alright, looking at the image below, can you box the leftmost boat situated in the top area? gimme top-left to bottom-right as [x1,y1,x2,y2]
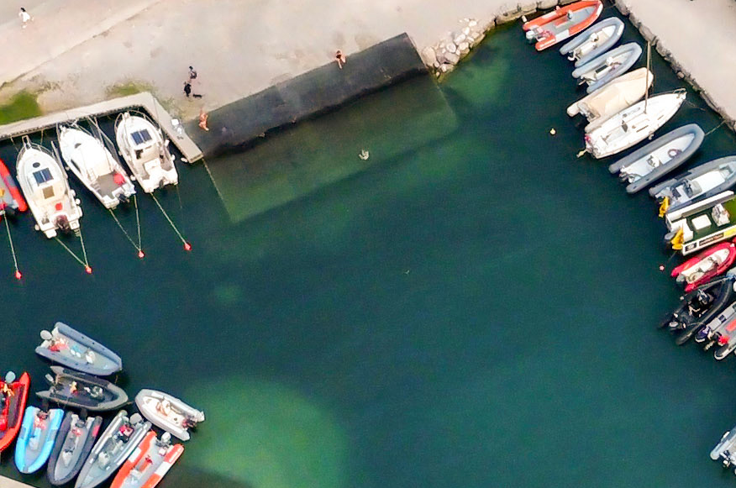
[0,154,27,217]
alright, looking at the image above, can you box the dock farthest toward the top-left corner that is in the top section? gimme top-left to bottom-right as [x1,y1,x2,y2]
[0,94,206,170]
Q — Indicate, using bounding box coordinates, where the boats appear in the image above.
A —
[59,121,141,212]
[581,50,687,160]
[522,0,605,50]
[111,433,181,488]
[610,125,707,194]
[651,154,736,213]
[134,390,205,438]
[40,365,128,408]
[47,413,102,484]
[0,372,28,451]
[74,411,151,488]
[671,242,736,292]
[568,70,654,133]
[695,302,736,360]
[559,18,625,66]
[711,421,736,473]
[572,42,643,92]
[658,273,736,344]
[0,154,27,217]
[657,193,736,256]
[19,404,64,474]
[118,108,179,196]
[38,322,122,374]
[18,136,84,238]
